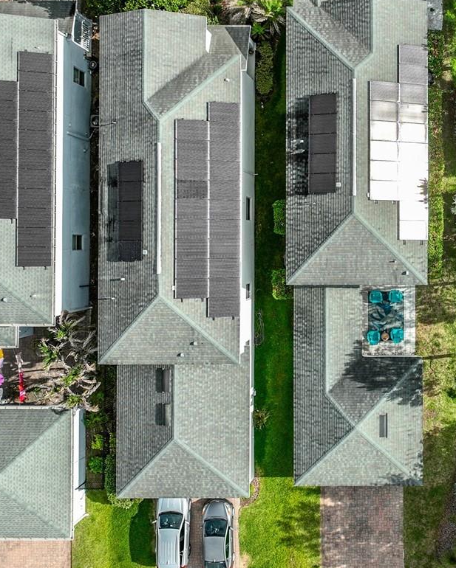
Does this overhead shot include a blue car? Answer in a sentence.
No, the scene contains no blue car.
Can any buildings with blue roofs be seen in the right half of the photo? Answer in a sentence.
No, no building with a blue roof is visible in the right half of the photo.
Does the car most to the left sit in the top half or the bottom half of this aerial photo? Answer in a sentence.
The car most to the left sits in the bottom half of the picture.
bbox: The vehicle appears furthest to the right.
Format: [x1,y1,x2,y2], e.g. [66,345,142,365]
[197,498,237,568]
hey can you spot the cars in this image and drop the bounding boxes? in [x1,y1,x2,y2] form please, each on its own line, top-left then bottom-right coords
[197,498,237,568]
[154,498,194,567]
